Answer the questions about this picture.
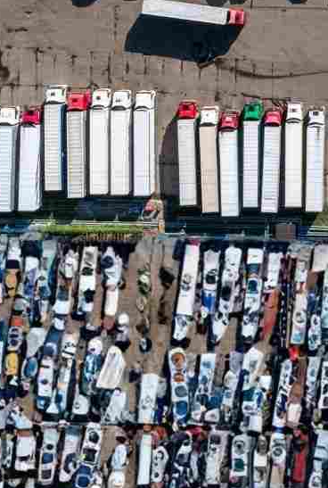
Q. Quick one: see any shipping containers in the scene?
Yes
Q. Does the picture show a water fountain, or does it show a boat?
boat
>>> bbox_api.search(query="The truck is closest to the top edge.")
[139,0,245,29]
